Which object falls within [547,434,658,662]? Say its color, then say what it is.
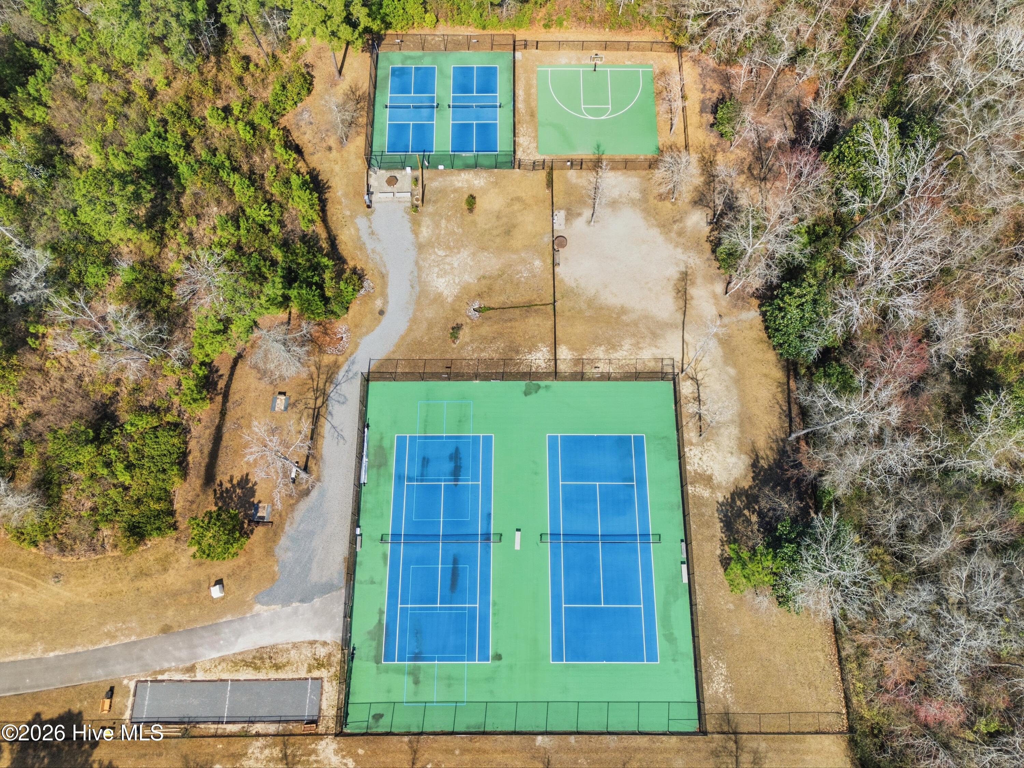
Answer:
blue tennis court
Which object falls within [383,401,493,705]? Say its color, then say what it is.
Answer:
blue tennis court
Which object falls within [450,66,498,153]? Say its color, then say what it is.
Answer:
blue sports court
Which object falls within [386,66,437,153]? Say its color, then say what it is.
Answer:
blue sports court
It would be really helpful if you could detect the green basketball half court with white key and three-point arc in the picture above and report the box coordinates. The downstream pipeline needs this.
[537,64,659,154]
